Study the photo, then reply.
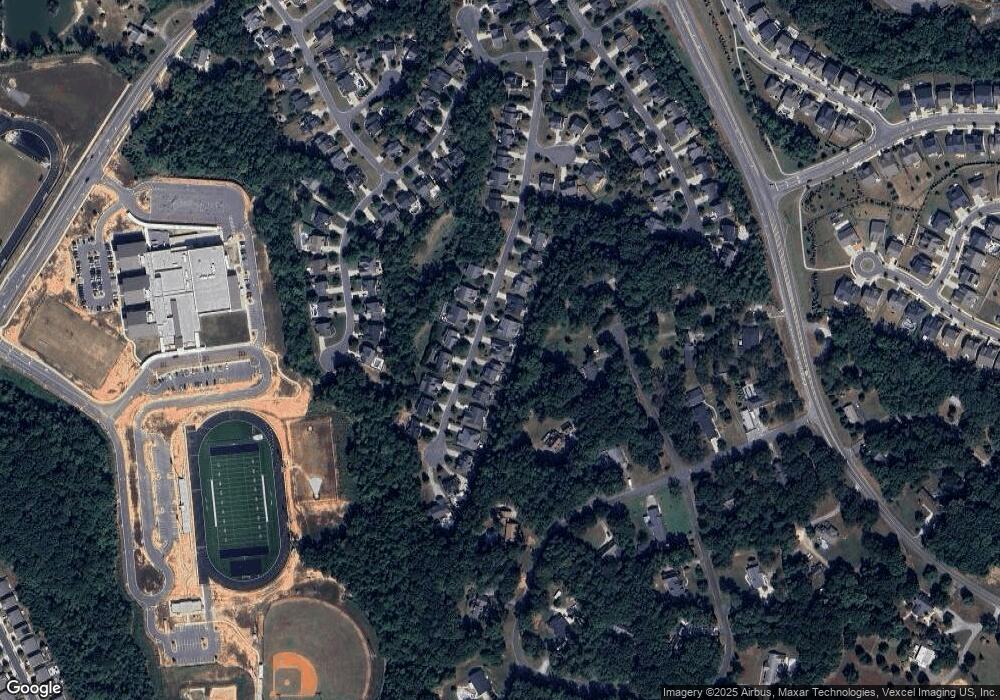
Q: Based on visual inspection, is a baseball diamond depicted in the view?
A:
Yes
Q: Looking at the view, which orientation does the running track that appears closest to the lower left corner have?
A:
up and down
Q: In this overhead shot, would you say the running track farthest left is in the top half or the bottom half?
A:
top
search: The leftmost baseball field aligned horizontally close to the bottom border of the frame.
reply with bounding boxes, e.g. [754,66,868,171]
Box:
[156,665,256,700]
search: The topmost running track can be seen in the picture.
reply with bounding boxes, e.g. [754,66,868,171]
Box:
[0,118,62,277]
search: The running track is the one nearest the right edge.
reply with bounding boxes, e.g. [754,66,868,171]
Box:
[187,408,291,592]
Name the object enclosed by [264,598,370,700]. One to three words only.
baseball field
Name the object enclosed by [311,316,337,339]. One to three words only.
house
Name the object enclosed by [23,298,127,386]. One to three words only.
sports field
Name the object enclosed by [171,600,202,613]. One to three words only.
building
